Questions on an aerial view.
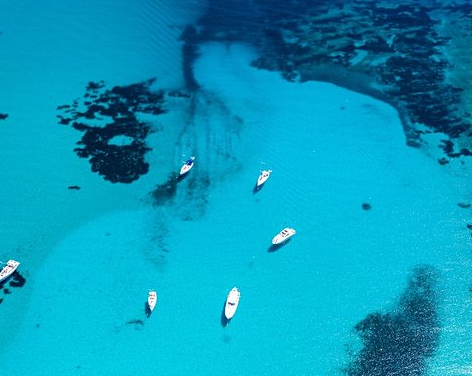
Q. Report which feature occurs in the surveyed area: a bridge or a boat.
boat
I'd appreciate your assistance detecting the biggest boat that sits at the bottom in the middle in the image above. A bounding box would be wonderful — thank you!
[225,287,241,320]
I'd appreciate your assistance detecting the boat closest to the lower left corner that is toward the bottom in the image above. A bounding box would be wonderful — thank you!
[0,254,19,283]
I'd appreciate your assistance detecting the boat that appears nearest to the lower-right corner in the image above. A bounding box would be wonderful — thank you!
[274,229,299,245]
